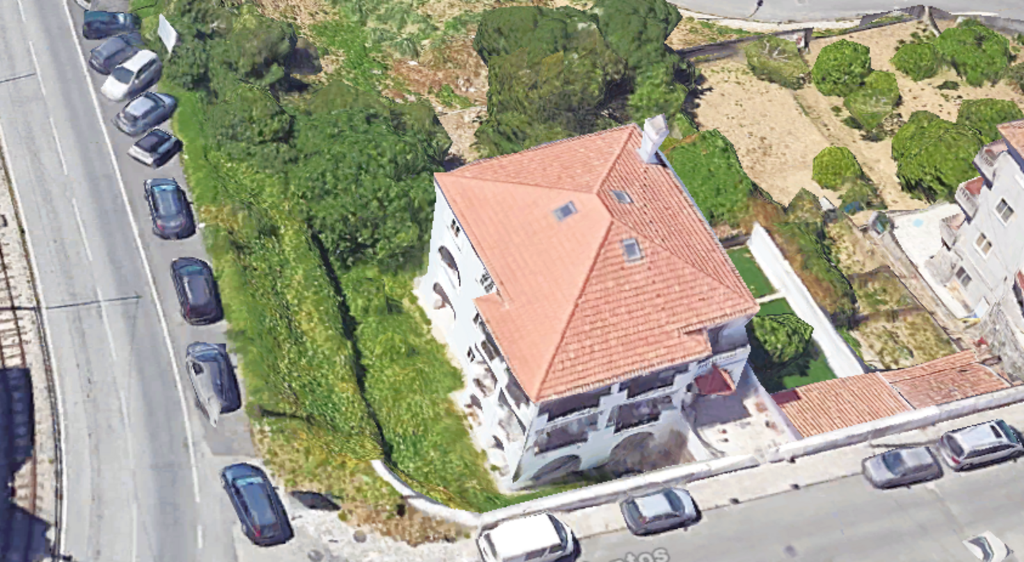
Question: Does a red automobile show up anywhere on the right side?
No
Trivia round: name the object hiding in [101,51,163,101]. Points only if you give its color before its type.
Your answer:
white car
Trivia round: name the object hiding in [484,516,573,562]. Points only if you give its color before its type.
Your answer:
white car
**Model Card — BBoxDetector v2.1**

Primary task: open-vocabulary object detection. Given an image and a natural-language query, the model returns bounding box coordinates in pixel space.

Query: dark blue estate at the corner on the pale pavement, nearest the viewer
[221,463,291,547]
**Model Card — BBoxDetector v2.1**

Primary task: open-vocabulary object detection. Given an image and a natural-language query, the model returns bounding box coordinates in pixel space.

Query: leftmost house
[431,118,763,489]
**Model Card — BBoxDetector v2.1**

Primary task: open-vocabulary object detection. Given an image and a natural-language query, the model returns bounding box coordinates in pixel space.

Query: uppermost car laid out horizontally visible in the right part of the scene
[939,422,1023,469]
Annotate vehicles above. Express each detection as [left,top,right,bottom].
[620,490,700,534]
[939,422,1023,469]
[187,340,237,413]
[174,258,220,325]
[221,463,291,547]
[109,95,182,139]
[150,180,192,239]
[127,131,185,171]
[101,51,163,101]
[484,516,573,562]
[77,6,146,44]
[84,36,149,78]
[861,450,944,489]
